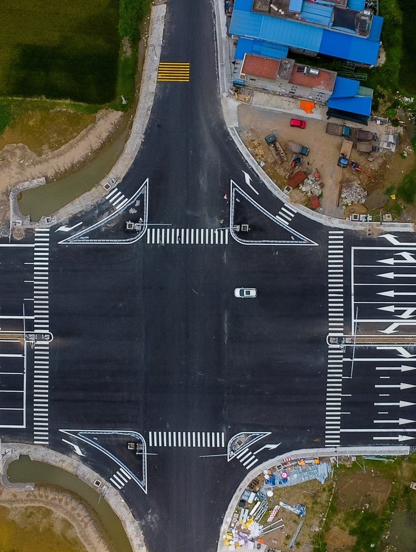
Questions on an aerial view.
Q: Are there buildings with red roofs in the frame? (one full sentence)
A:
Yes, you can see a building with a red roof in this photo.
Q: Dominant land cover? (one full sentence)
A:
What you mostly see from above here is paved ground.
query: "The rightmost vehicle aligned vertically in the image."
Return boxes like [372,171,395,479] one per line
[338,138,355,167]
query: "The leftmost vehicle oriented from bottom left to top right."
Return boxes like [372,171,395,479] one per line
[282,152,305,177]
